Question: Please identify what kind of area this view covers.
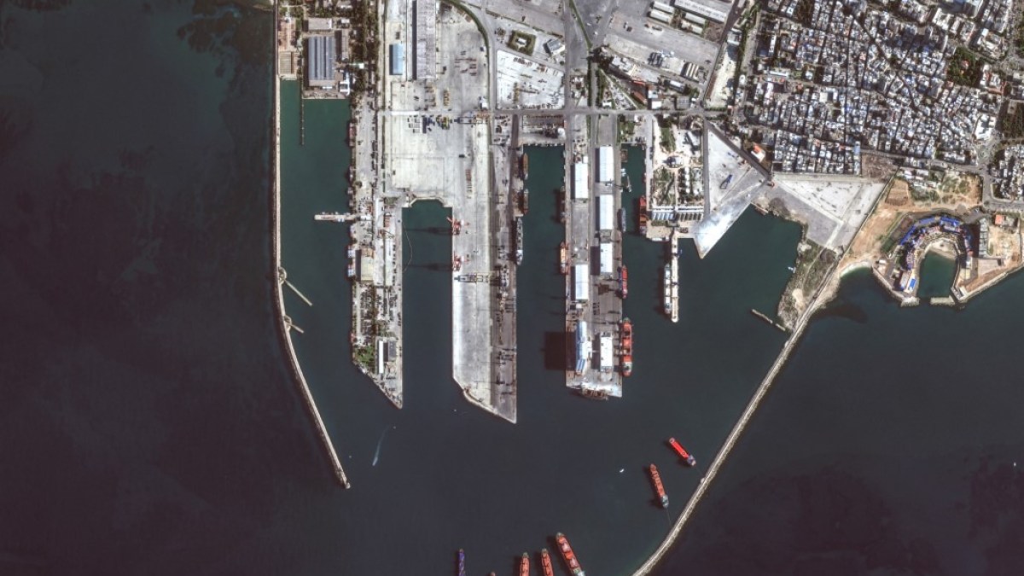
port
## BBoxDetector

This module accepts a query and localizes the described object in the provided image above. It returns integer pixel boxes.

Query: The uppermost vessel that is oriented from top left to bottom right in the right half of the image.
[672,436,695,468]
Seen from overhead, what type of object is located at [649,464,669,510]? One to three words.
ship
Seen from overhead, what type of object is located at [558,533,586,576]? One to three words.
ship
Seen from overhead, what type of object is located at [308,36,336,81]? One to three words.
building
